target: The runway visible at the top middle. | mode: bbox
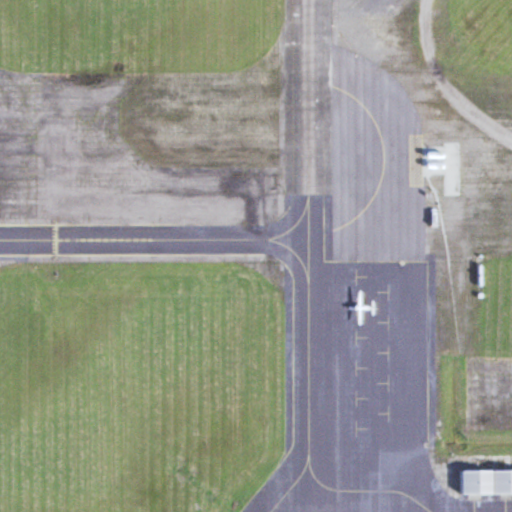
[286,0,332,196]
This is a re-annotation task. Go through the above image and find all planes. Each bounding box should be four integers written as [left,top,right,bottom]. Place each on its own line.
[348,290,377,326]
